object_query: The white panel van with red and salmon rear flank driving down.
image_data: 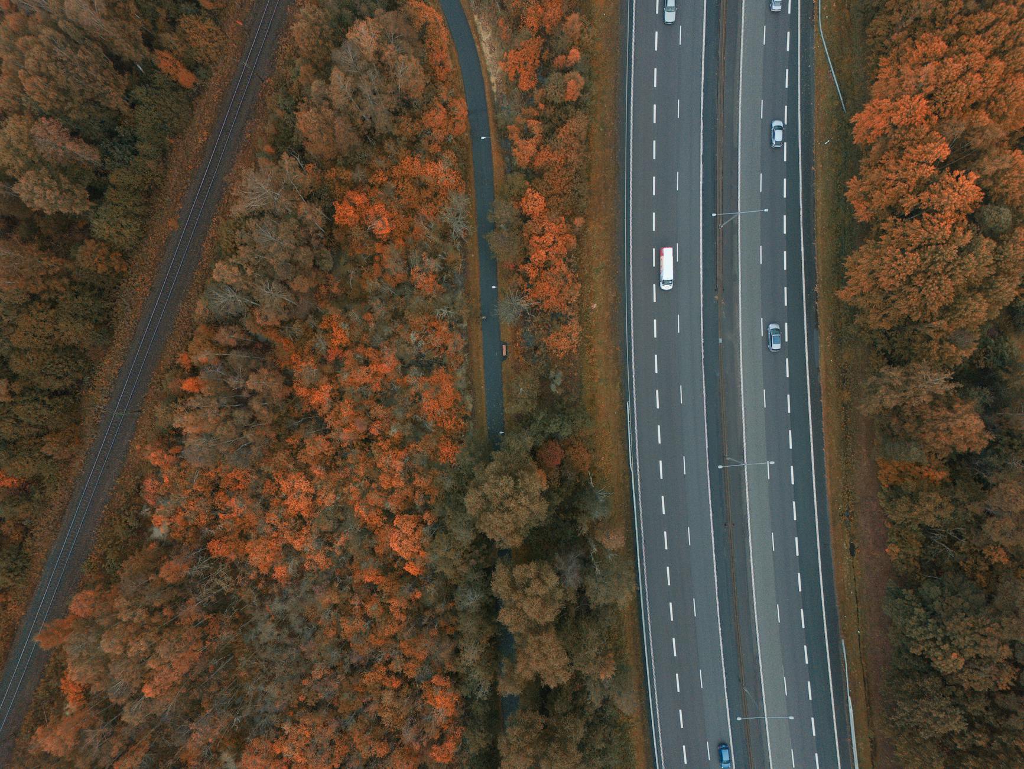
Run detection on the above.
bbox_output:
[659,245,675,289]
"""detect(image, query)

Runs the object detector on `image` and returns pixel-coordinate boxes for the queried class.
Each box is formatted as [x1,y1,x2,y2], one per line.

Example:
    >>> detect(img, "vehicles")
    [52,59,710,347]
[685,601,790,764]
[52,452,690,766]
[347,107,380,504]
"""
[719,744,733,769]
[771,120,785,148]
[663,0,676,24]
[770,0,782,12]
[659,245,675,289]
[768,324,782,352]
